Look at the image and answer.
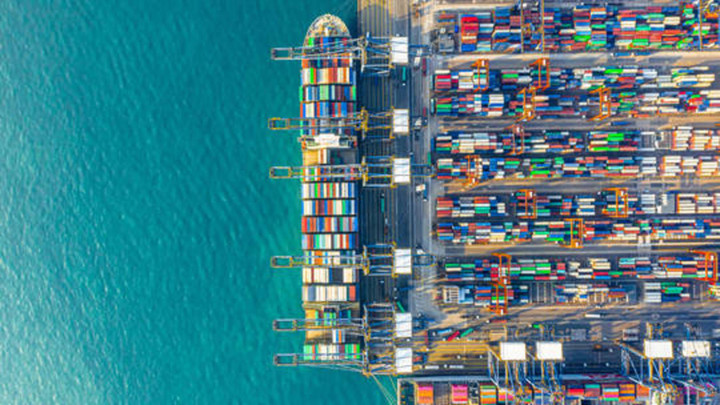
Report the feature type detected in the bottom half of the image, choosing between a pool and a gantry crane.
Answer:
gantry crane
